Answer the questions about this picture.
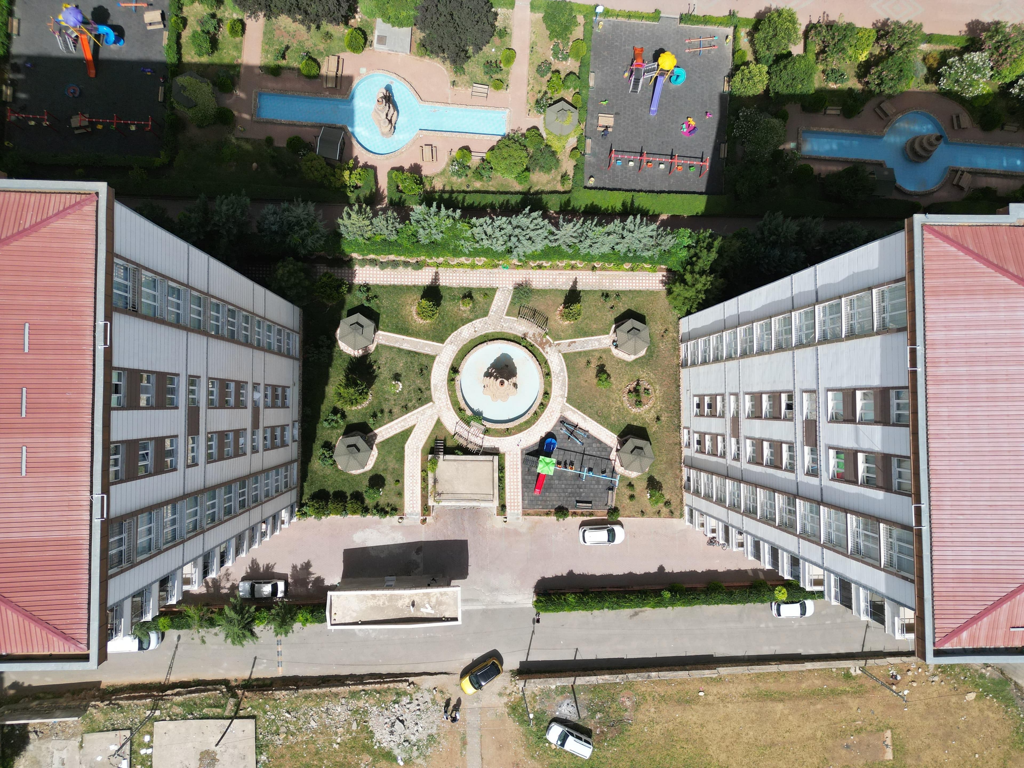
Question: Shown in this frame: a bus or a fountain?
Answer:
fountain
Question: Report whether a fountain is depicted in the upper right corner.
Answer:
Yes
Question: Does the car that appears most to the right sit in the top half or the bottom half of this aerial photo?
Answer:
bottom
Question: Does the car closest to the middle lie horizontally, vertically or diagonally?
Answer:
horizontally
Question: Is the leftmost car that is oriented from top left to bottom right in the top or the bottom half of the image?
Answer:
bottom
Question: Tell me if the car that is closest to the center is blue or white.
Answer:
white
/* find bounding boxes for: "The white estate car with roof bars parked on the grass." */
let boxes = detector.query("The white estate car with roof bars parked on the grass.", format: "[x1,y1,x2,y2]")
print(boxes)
[546,718,594,761]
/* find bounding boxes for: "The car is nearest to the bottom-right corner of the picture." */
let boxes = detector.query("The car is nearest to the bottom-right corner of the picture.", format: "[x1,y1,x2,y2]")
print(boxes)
[770,597,813,620]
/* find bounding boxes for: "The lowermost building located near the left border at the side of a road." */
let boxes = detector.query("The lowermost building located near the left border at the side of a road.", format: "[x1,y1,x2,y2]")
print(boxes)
[0,180,299,670]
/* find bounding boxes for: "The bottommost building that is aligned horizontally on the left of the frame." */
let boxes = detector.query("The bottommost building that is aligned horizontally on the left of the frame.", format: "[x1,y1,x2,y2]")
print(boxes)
[326,574,461,629]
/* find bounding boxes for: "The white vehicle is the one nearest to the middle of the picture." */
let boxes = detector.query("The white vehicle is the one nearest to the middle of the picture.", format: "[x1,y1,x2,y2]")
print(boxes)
[578,523,624,547]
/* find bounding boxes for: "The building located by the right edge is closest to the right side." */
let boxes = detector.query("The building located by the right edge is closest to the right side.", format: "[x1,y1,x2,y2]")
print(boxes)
[682,203,1024,664]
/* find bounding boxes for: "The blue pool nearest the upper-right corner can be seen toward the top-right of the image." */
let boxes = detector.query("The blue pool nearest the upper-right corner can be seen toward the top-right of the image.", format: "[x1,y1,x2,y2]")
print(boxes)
[800,107,1024,192]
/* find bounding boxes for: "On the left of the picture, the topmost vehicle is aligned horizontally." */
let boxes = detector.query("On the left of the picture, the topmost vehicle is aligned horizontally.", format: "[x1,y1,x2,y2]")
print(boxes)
[239,578,288,600]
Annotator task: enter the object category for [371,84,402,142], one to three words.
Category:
fountain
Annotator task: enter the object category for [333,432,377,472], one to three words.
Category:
gazebo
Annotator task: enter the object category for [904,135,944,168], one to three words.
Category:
fountain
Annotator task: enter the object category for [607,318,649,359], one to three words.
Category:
gazebo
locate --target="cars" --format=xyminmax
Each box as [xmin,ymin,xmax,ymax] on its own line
[578,523,624,547]
[109,629,161,655]
[546,718,594,761]
[770,597,813,620]
[239,578,288,600]
[460,655,504,697]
